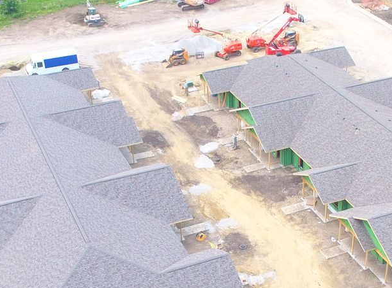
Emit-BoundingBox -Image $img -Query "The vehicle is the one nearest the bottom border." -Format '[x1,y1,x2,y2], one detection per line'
[24,47,77,75]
